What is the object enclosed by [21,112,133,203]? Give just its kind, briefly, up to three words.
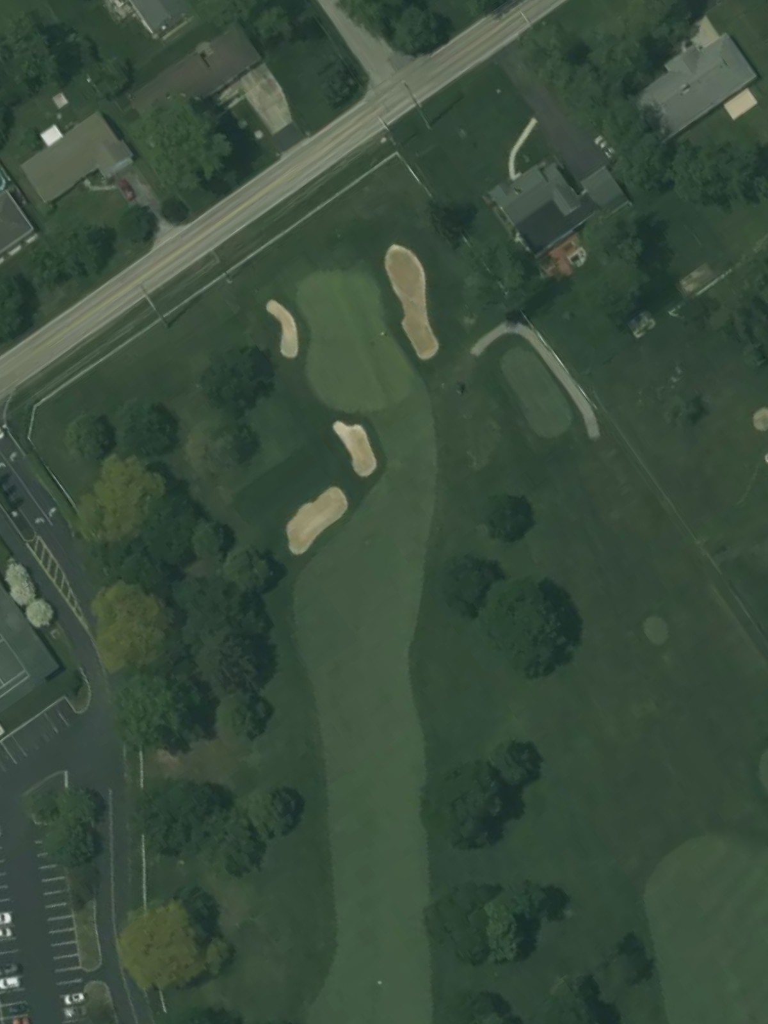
house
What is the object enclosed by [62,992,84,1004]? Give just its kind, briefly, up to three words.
vehicle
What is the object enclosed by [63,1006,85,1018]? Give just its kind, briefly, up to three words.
vehicle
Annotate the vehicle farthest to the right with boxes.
[595,136,612,156]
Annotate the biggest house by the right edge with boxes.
[635,32,758,136]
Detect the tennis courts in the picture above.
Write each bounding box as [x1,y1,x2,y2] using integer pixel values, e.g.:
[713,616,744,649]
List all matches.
[0,591,62,715]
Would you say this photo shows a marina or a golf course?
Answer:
golf course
